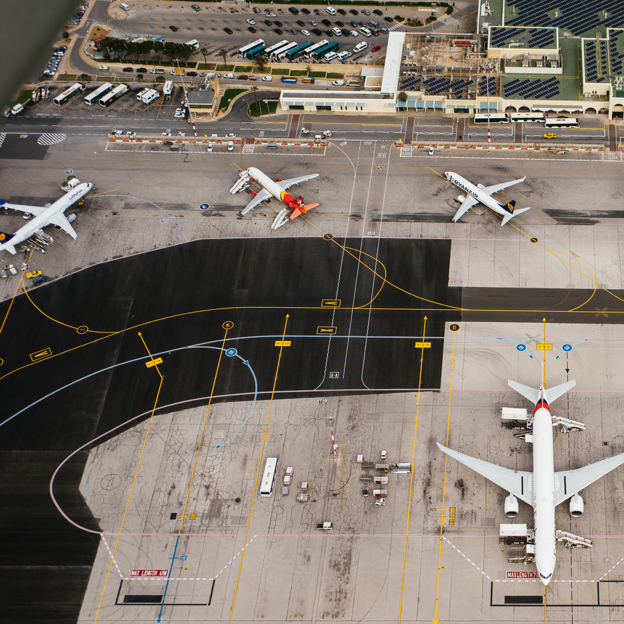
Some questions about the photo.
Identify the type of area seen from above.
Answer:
airport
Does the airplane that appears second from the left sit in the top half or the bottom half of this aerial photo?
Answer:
top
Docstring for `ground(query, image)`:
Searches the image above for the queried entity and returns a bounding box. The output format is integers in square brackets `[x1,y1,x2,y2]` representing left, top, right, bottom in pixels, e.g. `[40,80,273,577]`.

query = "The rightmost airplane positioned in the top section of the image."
[445,172,527,225]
